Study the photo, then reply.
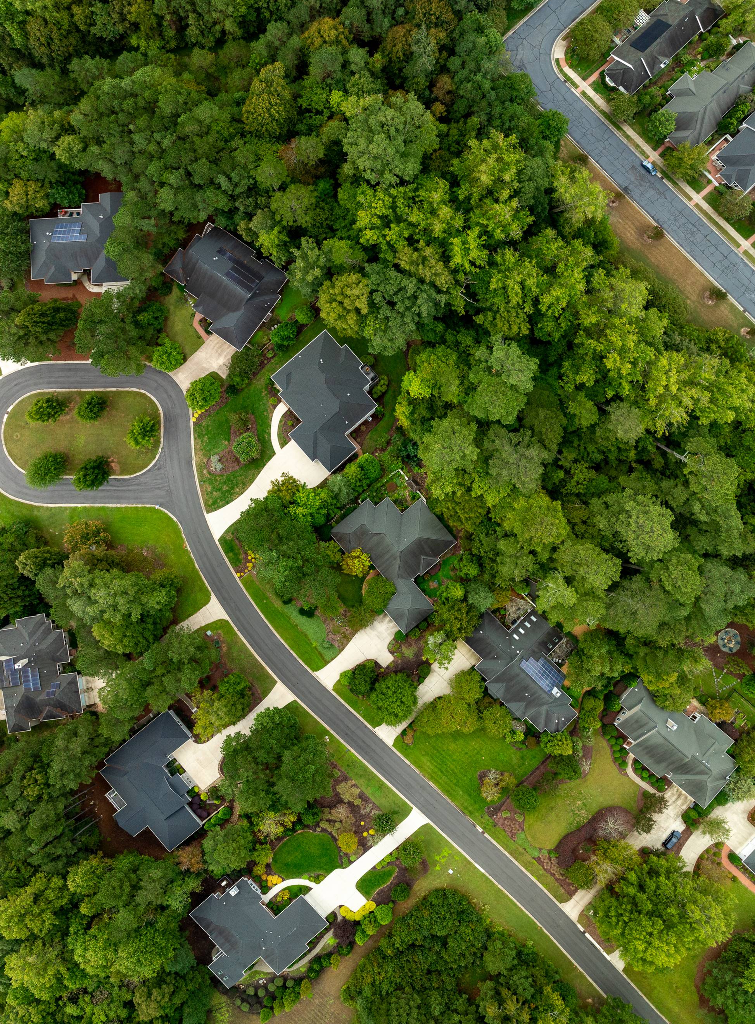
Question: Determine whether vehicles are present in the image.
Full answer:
Yes, a vehicle appears in the view.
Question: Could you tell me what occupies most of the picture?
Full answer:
Most of the picture is covered by trees.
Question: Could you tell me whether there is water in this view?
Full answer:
No, water can't be seen anywhere here.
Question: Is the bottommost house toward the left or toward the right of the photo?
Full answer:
The bottommost house appears in the left half of the scene.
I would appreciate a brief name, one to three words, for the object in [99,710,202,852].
house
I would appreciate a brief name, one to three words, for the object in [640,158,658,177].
car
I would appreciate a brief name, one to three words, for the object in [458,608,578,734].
house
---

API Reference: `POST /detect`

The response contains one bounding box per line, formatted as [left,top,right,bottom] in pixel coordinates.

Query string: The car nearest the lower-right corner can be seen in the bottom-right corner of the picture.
[664,829,680,851]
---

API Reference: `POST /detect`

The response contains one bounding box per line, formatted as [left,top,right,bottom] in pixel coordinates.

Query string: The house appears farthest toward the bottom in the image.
[189,876,329,989]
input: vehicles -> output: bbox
[664,829,680,851]
[640,158,658,177]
